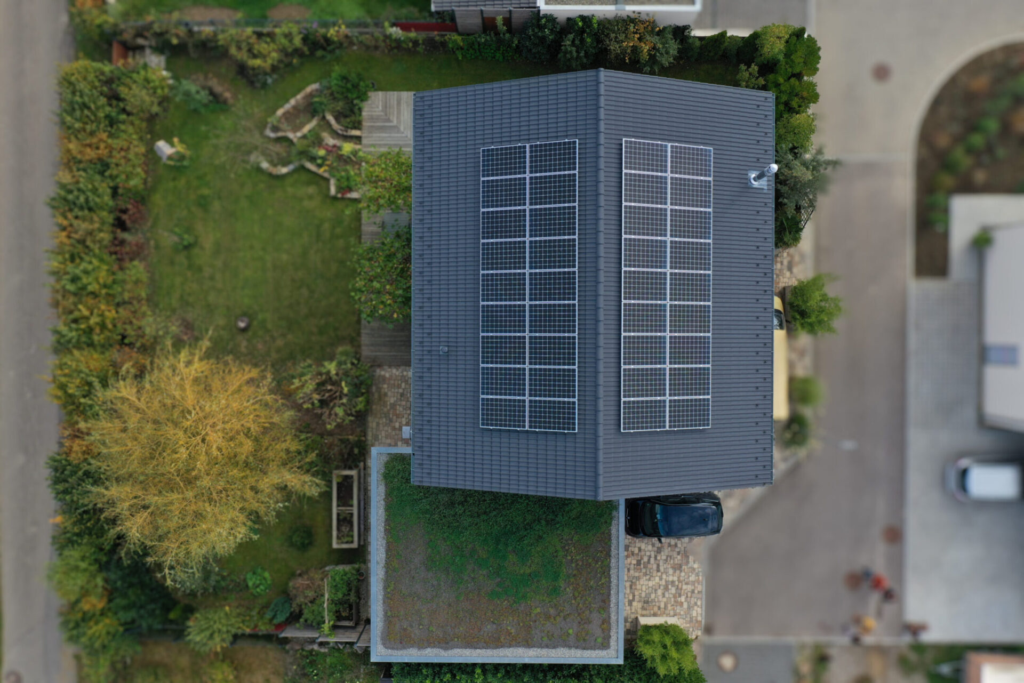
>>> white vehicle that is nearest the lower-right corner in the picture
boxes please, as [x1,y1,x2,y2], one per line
[944,454,1024,508]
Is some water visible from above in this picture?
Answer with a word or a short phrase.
No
